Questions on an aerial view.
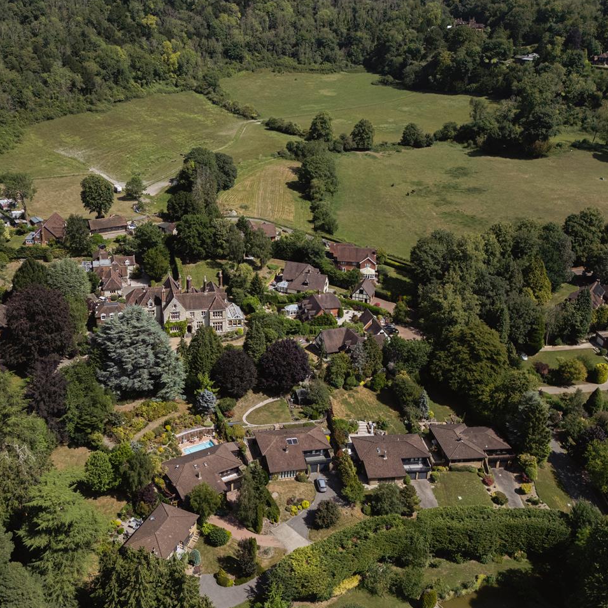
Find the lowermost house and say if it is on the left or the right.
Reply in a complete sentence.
The lowermost house sits on the left side.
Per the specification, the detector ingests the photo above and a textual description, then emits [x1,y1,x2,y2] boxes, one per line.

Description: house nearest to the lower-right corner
[433,419,514,470]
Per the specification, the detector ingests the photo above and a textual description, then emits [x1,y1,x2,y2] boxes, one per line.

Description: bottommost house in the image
[130,499,202,564]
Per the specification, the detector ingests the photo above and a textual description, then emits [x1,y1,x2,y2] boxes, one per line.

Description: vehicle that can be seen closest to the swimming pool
[314,475,327,492]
